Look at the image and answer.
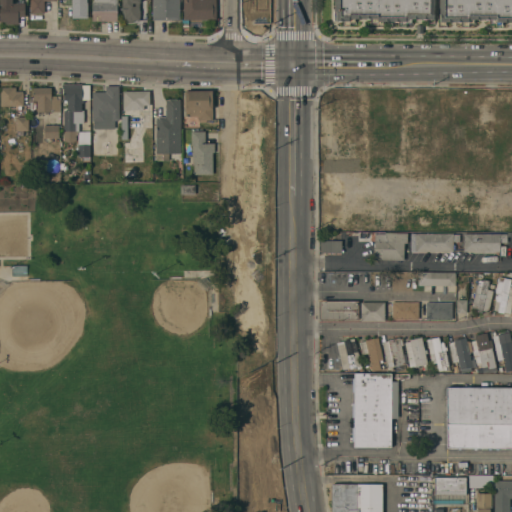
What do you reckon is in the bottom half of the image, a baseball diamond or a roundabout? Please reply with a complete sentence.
The feature located in the bottom half of the image is a baseball diamond.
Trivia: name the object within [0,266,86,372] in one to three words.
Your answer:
baseball field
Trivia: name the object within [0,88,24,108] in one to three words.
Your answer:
house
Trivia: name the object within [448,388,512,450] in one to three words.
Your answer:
building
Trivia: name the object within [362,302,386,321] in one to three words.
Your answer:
building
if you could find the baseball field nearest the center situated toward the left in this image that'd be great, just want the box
[152,271,218,334]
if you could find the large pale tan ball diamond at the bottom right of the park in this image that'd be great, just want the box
[131,463,213,512]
